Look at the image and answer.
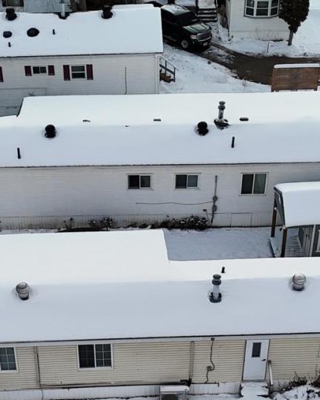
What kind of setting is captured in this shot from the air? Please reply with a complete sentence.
The area seen from above is a residential area.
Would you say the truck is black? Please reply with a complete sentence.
Yes, the truck appears black.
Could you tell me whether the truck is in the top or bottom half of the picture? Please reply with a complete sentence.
The top half of the photo is where the truck is.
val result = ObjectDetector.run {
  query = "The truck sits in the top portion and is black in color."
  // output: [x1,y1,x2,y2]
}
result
[139,0,210,43]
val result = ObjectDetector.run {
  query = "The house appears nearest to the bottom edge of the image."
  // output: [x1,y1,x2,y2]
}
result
[0,232,320,400]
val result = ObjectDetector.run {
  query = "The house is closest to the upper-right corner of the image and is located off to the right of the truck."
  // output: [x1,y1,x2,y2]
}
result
[222,0,295,37]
